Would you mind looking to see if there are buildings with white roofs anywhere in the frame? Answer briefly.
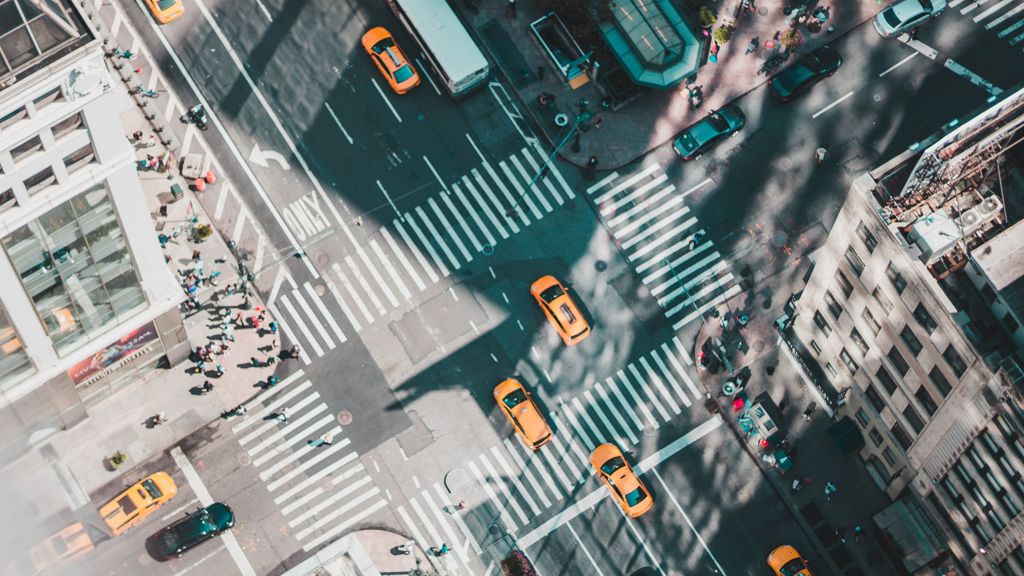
Yes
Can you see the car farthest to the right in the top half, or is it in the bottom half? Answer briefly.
top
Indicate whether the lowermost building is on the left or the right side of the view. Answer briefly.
left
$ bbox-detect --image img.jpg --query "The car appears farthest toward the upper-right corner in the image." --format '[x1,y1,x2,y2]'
[875,0,944,42]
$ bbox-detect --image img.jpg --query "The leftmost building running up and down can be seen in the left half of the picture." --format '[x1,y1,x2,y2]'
[0,0,194,464]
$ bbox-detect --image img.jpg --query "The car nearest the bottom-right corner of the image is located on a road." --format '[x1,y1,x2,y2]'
[769,547,809,576]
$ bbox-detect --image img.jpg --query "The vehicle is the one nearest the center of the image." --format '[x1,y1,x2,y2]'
[533,278,589,344]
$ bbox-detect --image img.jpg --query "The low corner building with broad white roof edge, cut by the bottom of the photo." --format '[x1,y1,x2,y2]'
[280,532,380,576]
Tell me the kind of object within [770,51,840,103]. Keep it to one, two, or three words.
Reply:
car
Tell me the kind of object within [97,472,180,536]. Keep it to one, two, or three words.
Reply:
car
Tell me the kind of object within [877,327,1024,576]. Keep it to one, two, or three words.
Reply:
building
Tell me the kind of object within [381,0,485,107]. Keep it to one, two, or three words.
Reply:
bus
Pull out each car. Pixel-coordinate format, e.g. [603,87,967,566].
[533,278,589,344]
[97,472,180,536]
[592,443,653,519]
[365,29,418,96]
[875,0,944,42]
[673,108,744,160]
[769,547,809,576]
[147,503,234,562]
[770,51,840,103]
[496,382,552,450]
